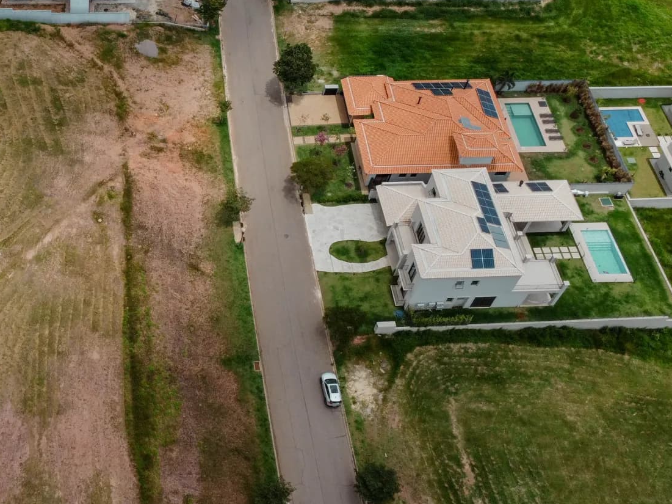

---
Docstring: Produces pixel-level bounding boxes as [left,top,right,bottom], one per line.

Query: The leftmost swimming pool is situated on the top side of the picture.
[504,102,547,148]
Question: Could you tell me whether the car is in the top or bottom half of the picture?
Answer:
bottom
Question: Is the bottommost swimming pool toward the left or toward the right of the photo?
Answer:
right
